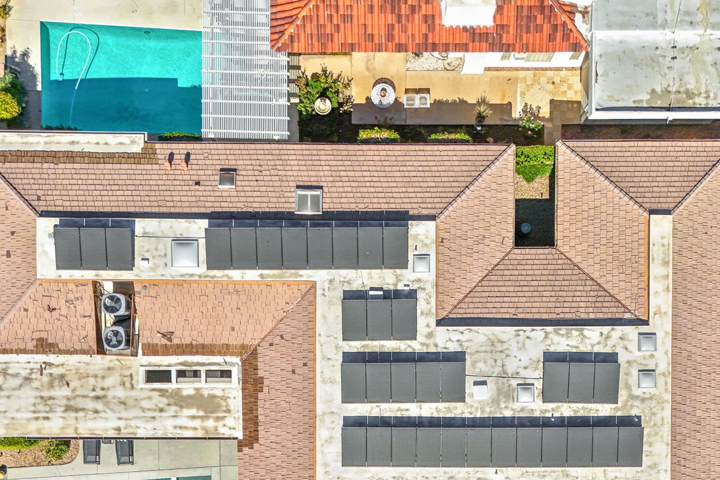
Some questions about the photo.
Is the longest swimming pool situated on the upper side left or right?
left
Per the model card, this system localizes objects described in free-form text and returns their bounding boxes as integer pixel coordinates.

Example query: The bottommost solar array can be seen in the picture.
[342,427,644,467]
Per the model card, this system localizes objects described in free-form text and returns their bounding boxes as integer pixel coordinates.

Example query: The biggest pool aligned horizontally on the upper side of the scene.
[42,23,255,131]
